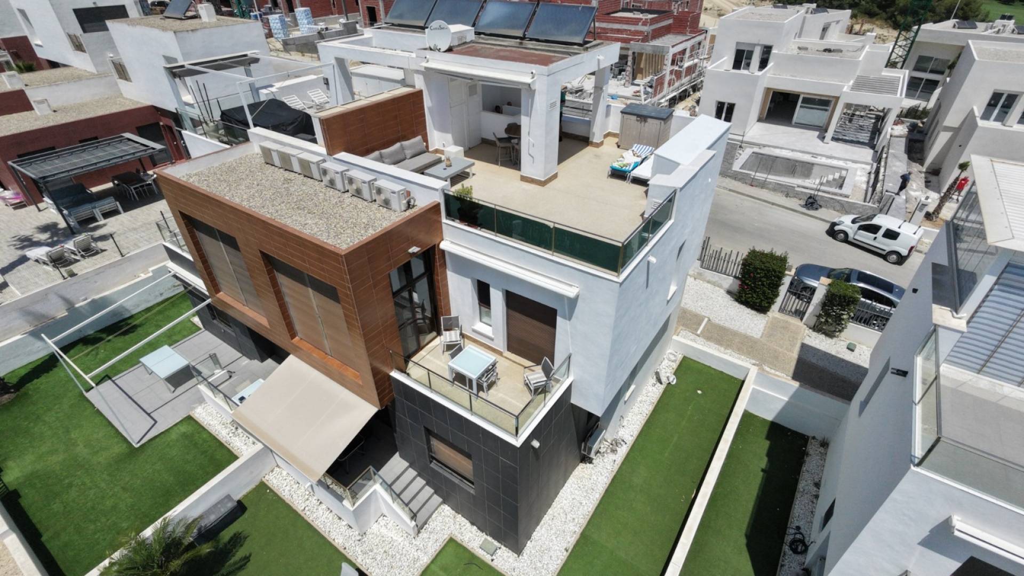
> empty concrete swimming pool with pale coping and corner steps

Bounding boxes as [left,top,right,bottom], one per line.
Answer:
[731,149,857,196]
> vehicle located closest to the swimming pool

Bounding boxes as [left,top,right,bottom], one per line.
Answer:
[830,214,934,267]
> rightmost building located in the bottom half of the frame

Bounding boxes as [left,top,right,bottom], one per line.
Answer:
[803,186,1024,576]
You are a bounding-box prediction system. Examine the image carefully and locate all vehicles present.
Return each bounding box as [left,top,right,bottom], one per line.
[830,214,934,267]
[789,266,908,329]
